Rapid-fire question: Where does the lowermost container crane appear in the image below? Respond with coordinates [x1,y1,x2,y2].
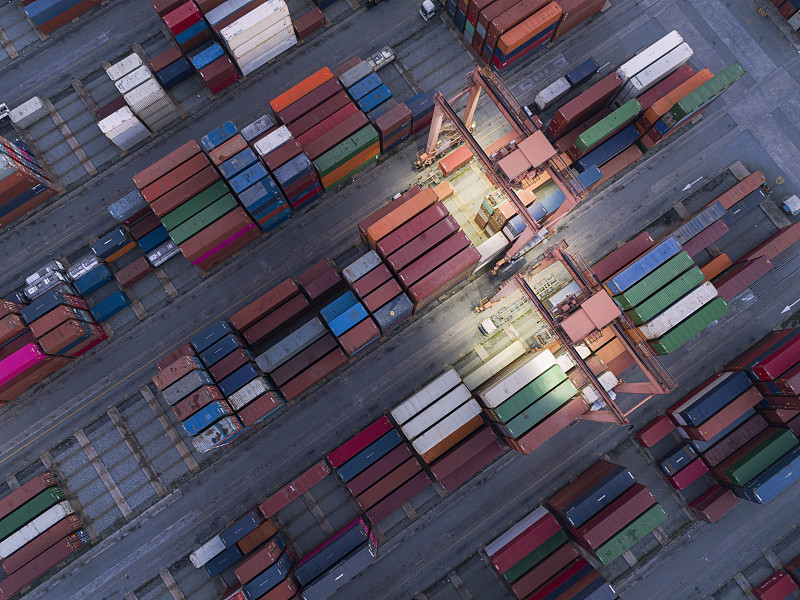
[471,235,680,435]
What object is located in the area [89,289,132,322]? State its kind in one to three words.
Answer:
shipping container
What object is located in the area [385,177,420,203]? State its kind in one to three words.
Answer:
truck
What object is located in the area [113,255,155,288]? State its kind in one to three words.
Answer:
shipping container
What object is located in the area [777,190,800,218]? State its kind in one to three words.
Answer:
truck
